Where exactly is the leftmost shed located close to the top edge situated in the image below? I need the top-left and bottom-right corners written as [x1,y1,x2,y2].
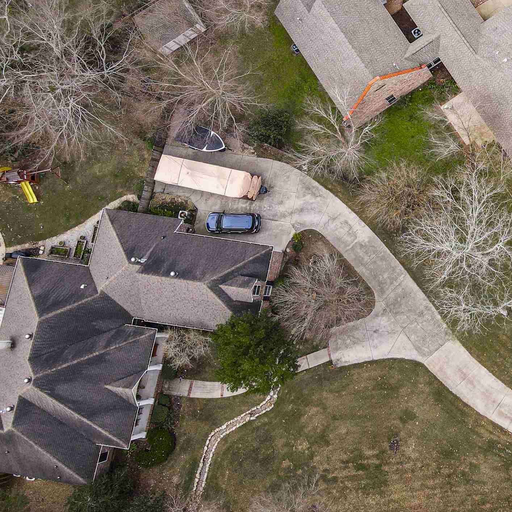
[122,0,206,54]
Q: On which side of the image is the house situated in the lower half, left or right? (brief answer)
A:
left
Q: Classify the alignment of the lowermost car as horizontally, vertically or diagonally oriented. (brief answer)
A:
horizontally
